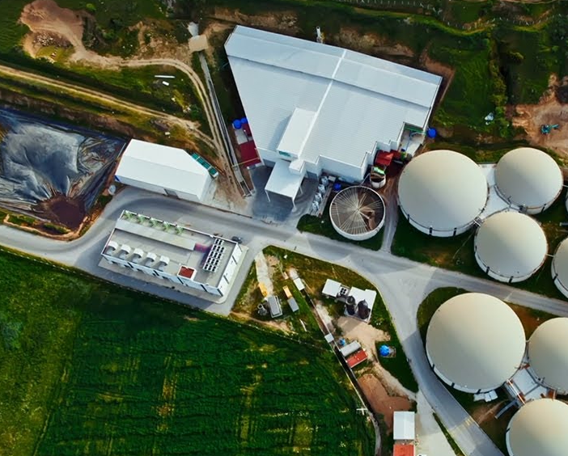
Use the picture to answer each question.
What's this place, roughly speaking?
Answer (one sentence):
What you see here is an industrial area.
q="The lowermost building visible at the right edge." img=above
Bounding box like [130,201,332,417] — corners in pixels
[494,363,555,419]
